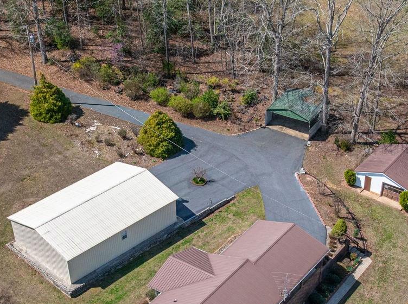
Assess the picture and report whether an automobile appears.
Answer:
No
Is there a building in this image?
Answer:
Yes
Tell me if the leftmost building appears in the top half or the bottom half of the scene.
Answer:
bottom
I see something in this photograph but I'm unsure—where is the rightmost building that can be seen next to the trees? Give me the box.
[355,144,408,206]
